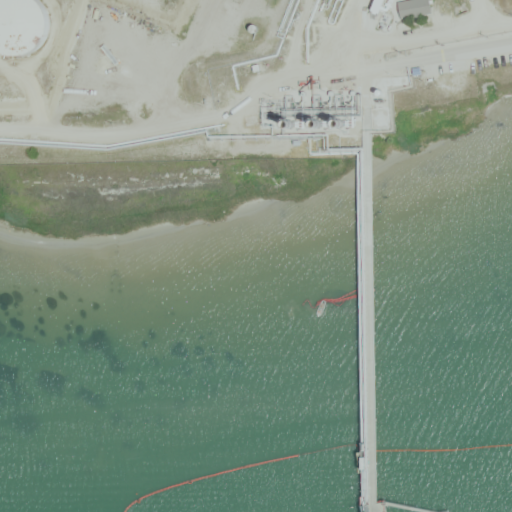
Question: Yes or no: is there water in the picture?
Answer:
Yes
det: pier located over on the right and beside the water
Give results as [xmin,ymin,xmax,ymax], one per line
[356,133,377,512]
